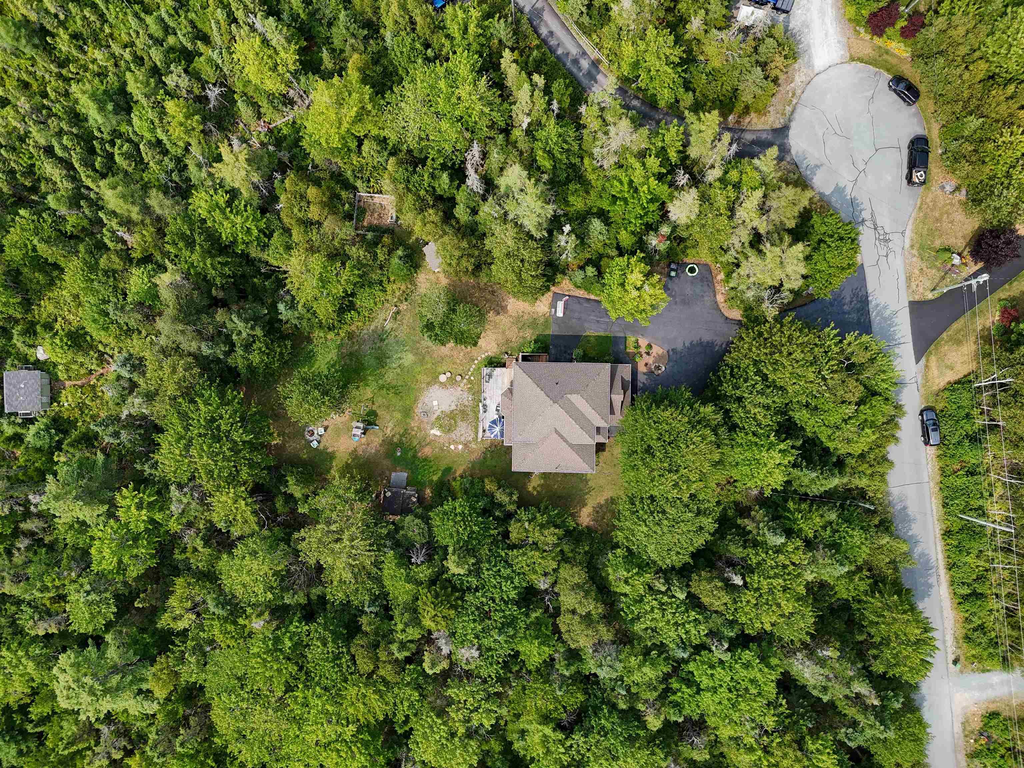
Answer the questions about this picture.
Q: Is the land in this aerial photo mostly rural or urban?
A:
rural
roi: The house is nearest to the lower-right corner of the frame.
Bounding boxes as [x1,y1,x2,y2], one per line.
[500,362,631,473]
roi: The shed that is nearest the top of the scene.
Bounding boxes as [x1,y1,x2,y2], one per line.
[424,242,449,274]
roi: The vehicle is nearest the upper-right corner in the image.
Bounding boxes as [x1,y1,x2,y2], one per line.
[888,70,928,106]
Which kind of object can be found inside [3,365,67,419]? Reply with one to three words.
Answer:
building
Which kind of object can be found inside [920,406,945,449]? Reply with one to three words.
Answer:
car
